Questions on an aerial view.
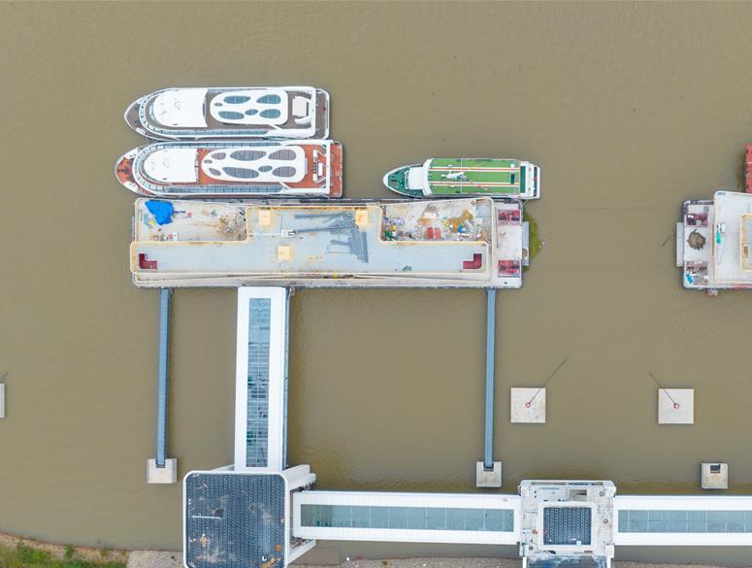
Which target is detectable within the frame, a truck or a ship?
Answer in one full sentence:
Looking from above, you can make out a ship.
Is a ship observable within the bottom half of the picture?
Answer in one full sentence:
No, I see no ship within the bottom half of the picture.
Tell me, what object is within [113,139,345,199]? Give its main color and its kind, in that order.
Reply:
white ship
